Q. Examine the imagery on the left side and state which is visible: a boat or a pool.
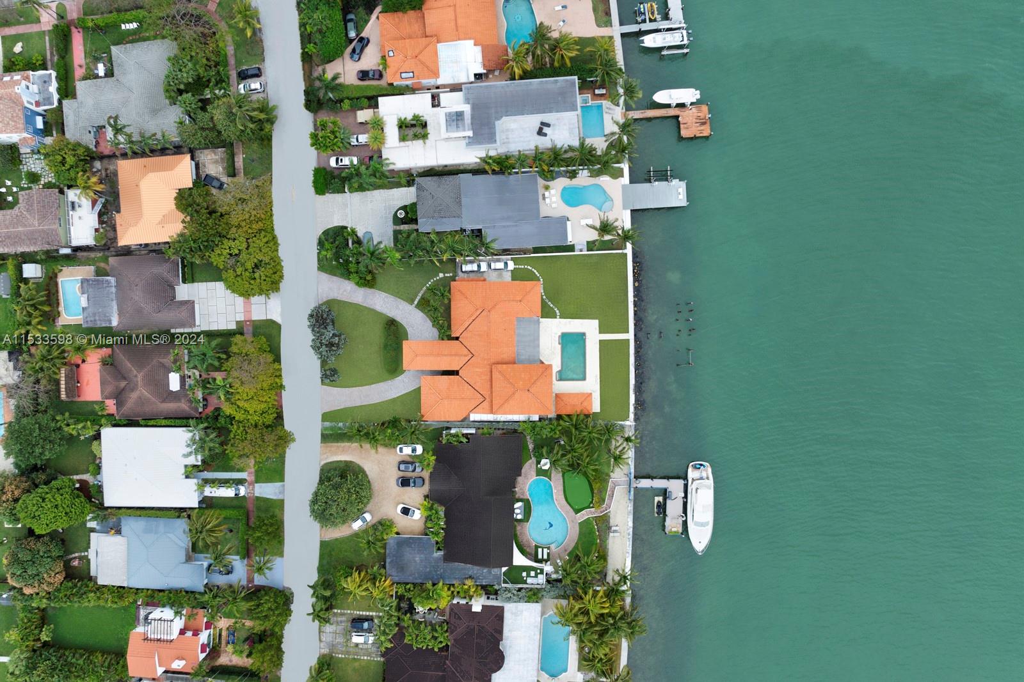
pool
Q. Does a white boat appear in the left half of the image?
No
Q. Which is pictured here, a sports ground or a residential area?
residential area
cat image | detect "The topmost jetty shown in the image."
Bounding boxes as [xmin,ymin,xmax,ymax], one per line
[619,0,684,34]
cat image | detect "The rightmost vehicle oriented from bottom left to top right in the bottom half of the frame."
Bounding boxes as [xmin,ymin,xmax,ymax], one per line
[350,511,373,532]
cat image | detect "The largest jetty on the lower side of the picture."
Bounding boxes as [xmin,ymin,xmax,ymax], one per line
[632,476,686,536]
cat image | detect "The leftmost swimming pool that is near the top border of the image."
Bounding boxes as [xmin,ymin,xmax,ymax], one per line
[501,0,539,54]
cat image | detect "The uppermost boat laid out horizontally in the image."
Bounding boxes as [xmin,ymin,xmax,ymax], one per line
[637,31,689,50]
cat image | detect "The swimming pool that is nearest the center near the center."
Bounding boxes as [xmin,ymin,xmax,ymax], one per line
[556,331,587,382]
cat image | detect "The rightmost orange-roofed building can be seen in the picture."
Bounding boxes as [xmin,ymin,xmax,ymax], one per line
[555,393,592,414]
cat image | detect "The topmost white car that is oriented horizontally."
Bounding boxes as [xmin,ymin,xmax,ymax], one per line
[237,80,264,93]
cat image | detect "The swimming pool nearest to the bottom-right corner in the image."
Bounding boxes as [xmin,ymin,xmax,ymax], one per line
[540,611,572,680]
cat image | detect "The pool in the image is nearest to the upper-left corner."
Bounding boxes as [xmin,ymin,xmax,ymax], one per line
[58,277,82,319]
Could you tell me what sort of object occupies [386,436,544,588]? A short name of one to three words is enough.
house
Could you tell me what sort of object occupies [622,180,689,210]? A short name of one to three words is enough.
pier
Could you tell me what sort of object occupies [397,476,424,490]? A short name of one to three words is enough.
car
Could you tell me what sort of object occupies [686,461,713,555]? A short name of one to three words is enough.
boat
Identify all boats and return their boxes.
[648,0,656,21]
[653,89,698,105]
[637,0,645,20]
[637,31,689,50]
[686,461,713,555]
[656,500,662,517]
